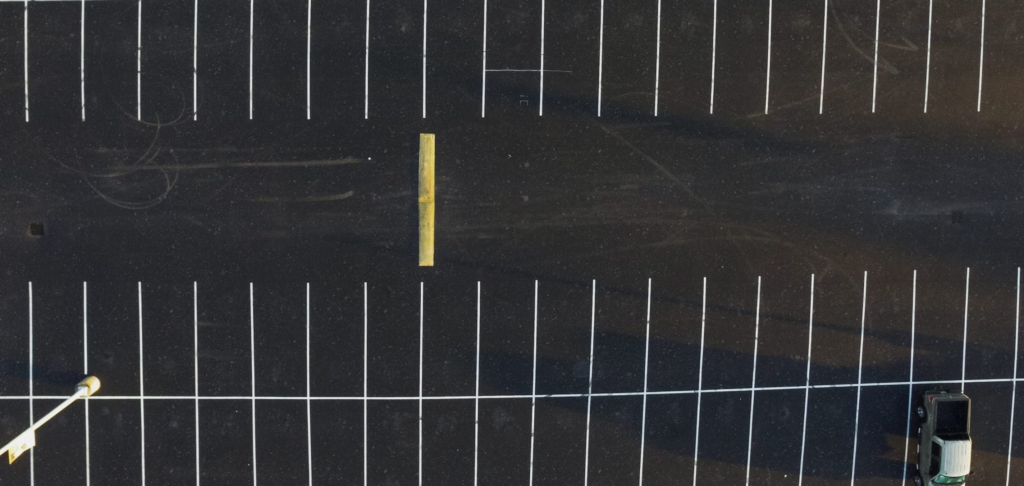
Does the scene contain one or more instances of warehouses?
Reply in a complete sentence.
No, no warehouse is visible in the view.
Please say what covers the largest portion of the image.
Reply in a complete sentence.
The scene is dominated by paved ground.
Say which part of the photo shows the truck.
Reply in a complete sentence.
The truck is in the bottom right part of the image.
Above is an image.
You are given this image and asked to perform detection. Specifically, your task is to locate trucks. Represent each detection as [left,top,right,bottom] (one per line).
[914,385,974,486]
